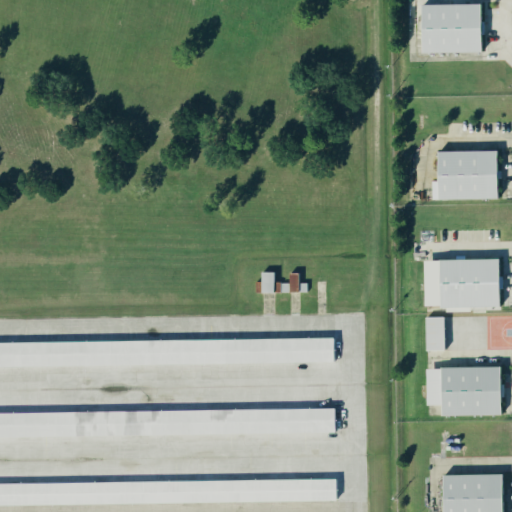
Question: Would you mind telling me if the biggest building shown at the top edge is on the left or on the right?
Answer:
right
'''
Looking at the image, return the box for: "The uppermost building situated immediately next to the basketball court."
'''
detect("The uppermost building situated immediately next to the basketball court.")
[424,256,504,312]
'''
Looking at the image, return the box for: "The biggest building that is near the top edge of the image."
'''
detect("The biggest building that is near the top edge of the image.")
[422,4,486,54]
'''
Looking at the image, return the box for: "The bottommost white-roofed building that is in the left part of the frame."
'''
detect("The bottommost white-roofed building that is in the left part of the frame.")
[0,478,338,506]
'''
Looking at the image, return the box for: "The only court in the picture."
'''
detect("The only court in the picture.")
[488,316,512,350]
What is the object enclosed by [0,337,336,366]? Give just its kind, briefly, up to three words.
building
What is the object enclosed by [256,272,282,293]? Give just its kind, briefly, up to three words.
barn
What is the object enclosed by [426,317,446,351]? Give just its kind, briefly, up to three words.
shed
